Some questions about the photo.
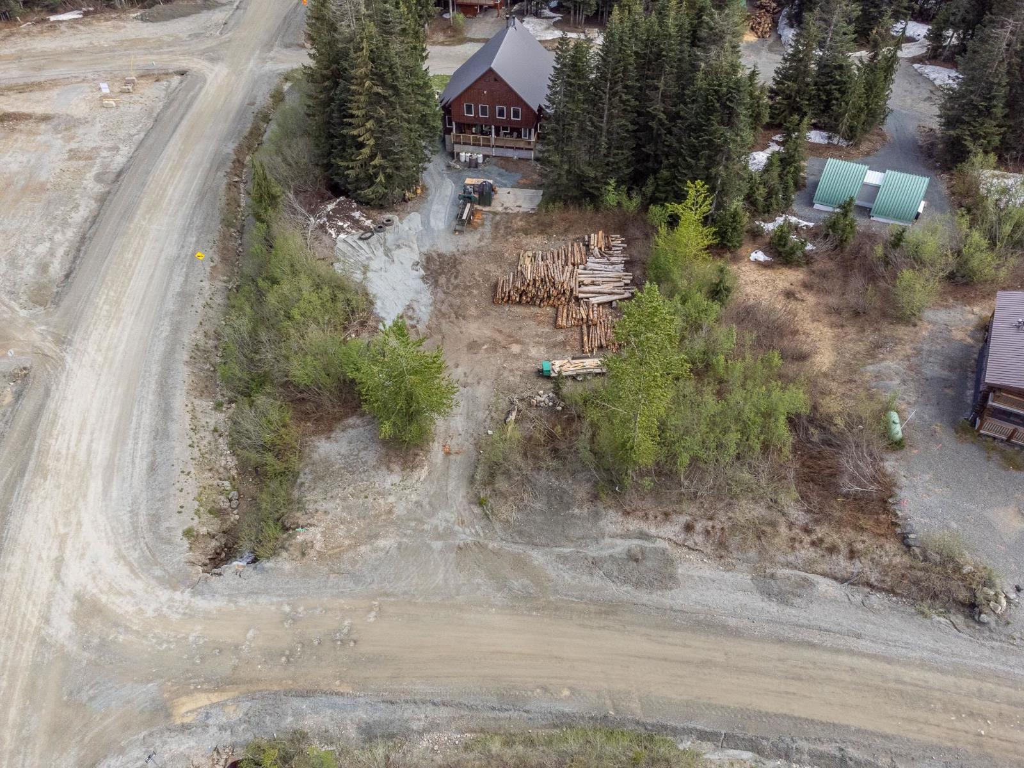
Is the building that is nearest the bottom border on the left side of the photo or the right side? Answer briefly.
right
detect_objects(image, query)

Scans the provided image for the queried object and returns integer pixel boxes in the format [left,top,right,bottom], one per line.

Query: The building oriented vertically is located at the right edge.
[956,288,1024,456]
